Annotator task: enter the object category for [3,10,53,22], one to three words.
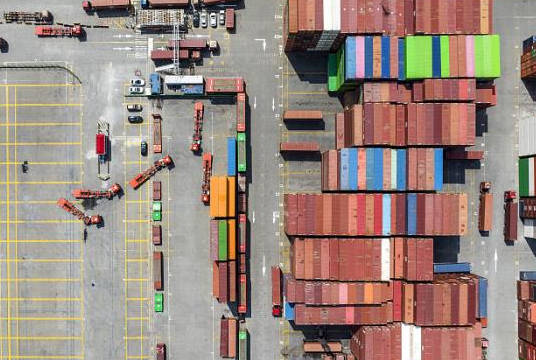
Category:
vehicle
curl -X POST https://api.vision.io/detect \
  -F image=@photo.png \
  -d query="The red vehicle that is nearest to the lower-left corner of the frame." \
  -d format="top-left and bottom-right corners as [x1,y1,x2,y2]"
[58,198,103,226]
